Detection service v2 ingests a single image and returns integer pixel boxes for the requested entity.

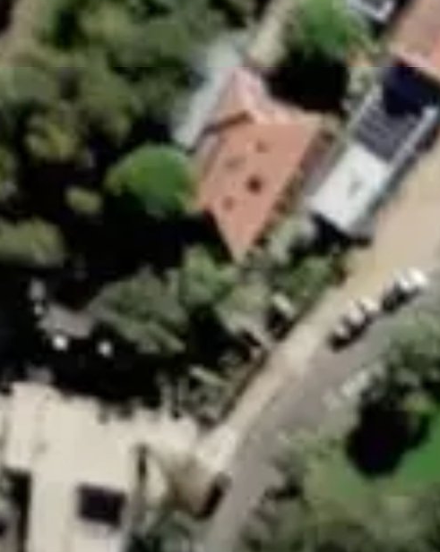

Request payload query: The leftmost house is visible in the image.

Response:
[172,42,328,261]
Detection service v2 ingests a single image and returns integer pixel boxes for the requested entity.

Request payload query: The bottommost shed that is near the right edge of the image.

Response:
[306,70,440,240]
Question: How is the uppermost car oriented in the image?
on a diagonal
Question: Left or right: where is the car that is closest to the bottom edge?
right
